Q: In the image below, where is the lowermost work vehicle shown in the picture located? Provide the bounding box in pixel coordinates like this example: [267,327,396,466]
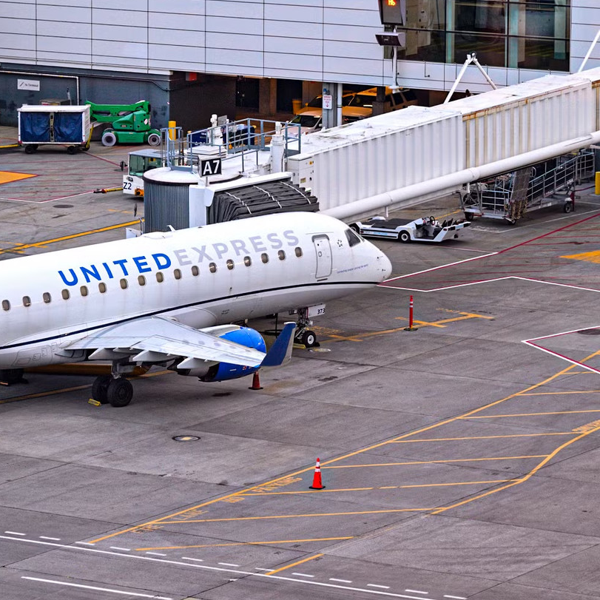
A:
[357,209,488,246]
